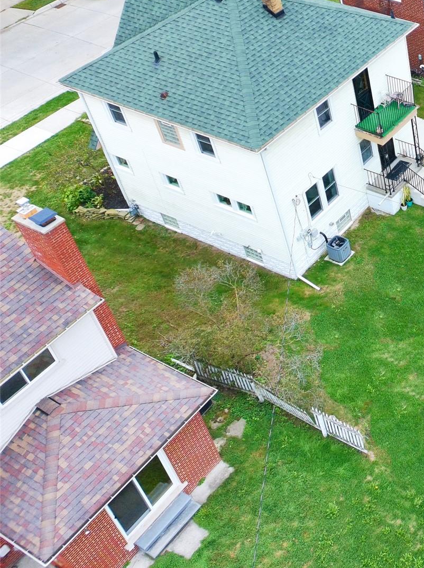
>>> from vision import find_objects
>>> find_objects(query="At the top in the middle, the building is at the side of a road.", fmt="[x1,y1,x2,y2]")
[53,0,424,292]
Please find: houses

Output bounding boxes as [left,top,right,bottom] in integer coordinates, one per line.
[0,200,226,568]
[53,0,424,292]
